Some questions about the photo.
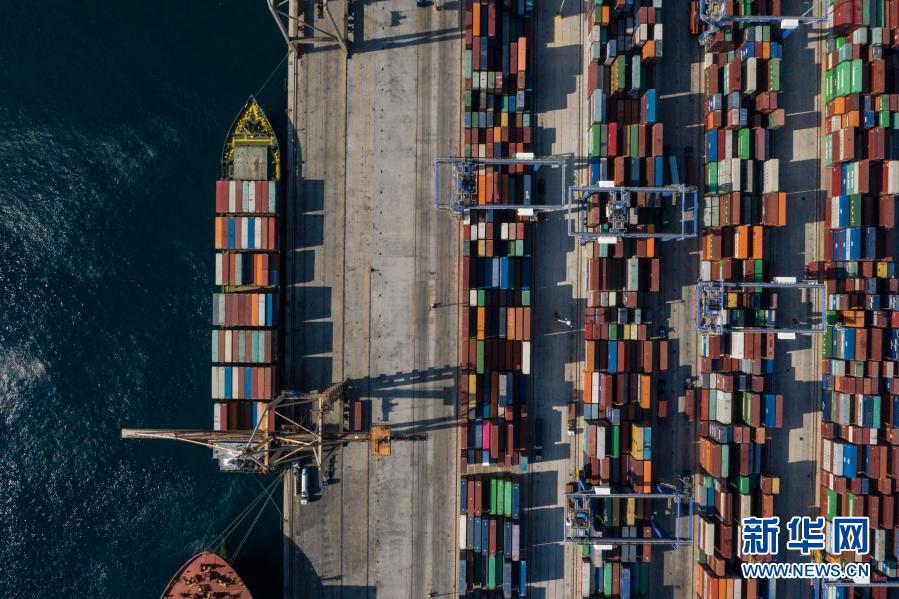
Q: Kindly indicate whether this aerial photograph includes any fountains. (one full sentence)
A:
No, there is no fountain in the image.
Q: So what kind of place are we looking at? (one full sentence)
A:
The area seen from above is a port.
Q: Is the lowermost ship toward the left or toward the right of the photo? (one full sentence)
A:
The lowermost ship is on the left side of the image.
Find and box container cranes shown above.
[694,274,826,343]
[263,0,348,68]
[565,471,694,553]
[437,148,565,225]
[119,377,424,469]
[568,177,697,249]
[698,0,830,50]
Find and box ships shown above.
[210,95,282,471]
[161,550,252,599]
